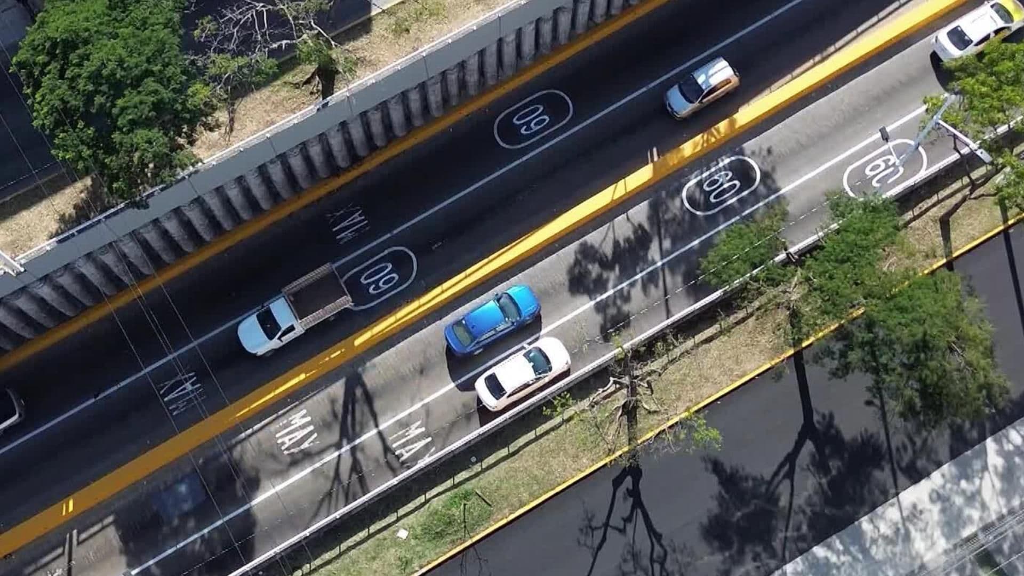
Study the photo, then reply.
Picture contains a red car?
No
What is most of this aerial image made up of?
paved ground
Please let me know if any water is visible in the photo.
No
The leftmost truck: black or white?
black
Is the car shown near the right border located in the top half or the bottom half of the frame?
top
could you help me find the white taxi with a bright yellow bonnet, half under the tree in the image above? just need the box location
[926,0,1019,64]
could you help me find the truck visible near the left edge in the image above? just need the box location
[0,385,34,435]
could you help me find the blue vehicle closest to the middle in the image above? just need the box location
[445,284,544,360]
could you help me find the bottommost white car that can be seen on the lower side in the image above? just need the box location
[475,335,575,412]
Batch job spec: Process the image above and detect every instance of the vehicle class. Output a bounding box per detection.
[661,54,744,120]
[445,284,544,360]
[235,264,353,357]
[475,335,575,412]
[0,385,34,435]
[926,0,1019,64]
